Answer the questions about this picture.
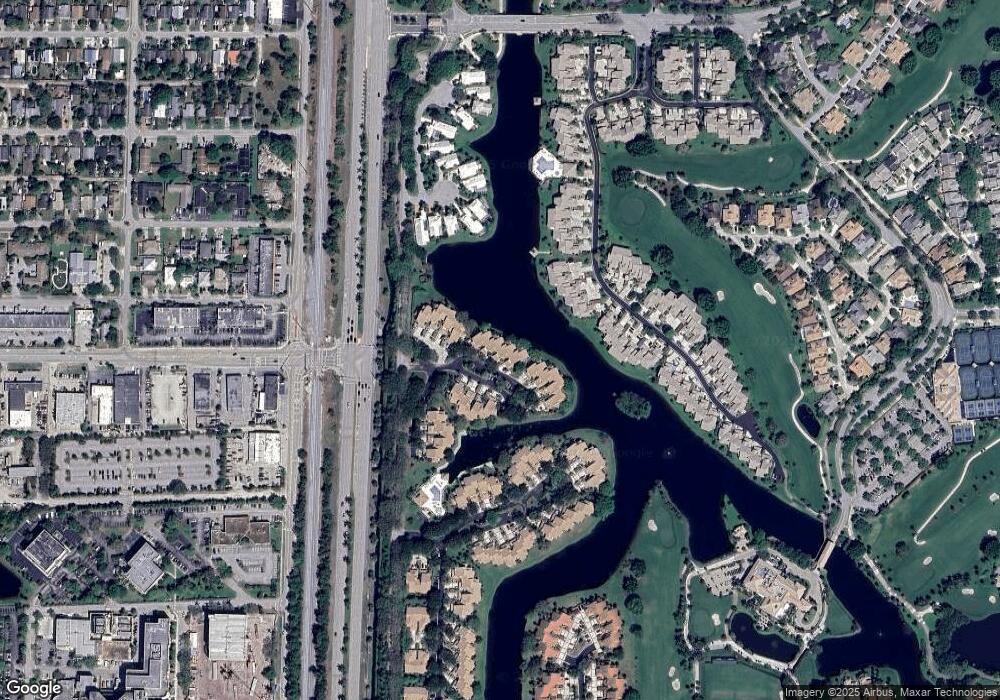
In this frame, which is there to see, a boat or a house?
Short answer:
house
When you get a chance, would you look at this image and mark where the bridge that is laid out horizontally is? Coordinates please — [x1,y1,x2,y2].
[497,14,541,34]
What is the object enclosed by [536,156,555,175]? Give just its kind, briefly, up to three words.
swimming pool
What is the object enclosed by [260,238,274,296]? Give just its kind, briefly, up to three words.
building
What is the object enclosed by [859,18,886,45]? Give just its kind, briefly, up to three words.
house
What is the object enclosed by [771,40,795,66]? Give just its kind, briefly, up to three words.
house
